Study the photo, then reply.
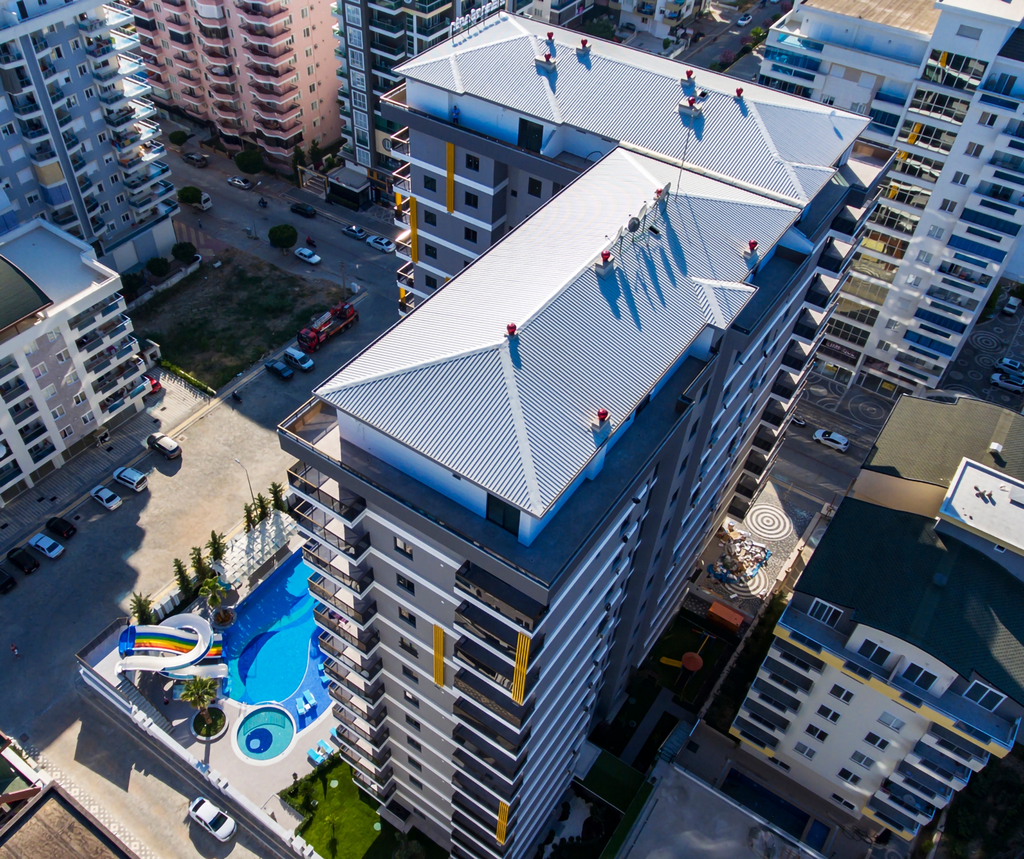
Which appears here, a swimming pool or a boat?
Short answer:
swimming pool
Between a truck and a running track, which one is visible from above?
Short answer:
truck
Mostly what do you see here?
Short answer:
buildings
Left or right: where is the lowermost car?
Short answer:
left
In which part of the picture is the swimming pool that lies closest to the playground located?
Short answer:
bottom right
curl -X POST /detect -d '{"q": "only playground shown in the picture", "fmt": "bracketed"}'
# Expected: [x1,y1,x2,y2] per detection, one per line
[633,621,734,731]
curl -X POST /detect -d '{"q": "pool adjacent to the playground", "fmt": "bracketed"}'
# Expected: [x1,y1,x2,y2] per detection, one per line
[713,756,834,858]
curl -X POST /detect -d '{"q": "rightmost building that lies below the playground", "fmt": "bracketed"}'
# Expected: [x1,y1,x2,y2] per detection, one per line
[614,763,819,859]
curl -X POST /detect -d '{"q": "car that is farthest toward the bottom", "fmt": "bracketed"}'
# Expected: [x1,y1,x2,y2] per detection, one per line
[179,798,240,847]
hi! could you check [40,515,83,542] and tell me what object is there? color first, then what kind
black car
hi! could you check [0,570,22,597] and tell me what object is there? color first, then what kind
black car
